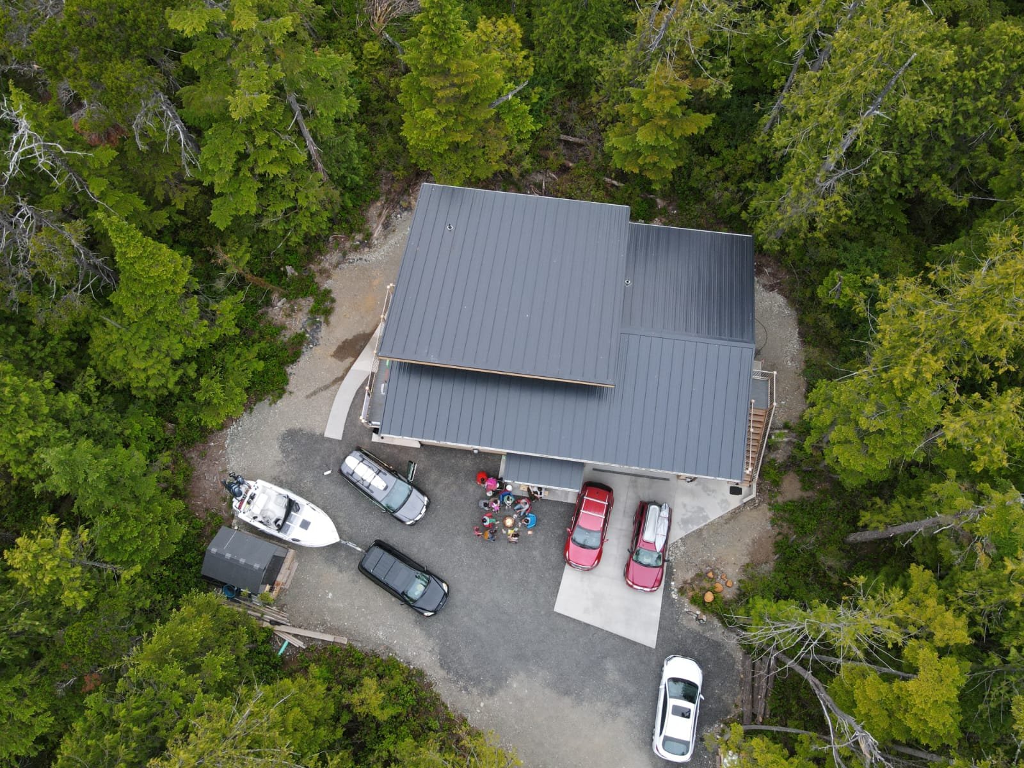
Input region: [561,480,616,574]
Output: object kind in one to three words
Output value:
car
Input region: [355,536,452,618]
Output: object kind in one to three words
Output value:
van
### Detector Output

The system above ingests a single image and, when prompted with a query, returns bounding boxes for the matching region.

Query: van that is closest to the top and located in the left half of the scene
[337,448,431,526]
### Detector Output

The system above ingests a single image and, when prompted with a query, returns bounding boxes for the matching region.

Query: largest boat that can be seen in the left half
[227,473,339,549]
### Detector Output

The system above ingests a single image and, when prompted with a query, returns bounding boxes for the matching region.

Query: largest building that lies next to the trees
[379,183,762,498]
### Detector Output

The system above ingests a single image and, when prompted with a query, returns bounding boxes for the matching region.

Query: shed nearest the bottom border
[204,525,290,594]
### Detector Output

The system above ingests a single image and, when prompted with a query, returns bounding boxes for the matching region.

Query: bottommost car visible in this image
[649,654,705,764]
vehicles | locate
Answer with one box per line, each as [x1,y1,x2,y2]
[355,536,452,618]
[649,654,705,764]
[337,448,431,526]
[622,499,670,596]
[561,480,616,574]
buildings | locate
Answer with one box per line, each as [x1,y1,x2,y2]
[379,183,762,498]
[204,525,290,594]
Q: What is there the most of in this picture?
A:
trees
